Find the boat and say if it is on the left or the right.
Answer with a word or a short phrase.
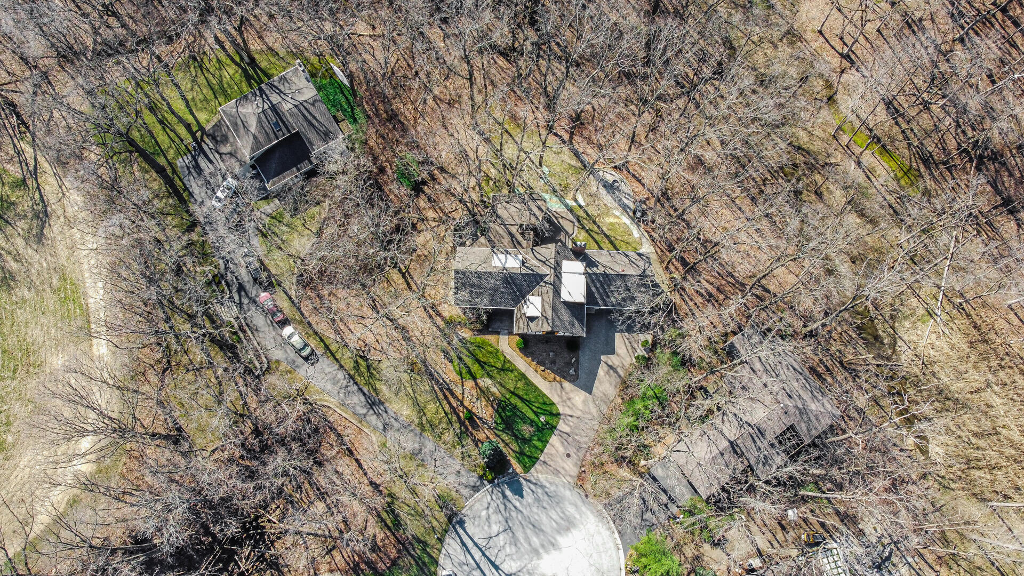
left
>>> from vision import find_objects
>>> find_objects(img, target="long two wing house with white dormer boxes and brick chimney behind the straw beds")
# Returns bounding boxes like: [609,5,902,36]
[454,239,662,337]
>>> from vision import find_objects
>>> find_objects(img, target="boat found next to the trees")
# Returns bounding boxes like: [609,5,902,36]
[331,63,351,89]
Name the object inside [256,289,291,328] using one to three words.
car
